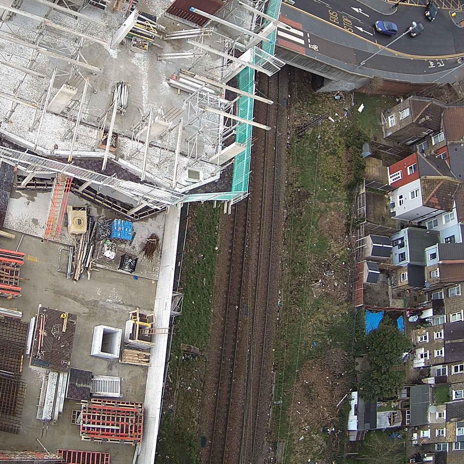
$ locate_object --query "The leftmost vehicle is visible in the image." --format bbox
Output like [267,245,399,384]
[379,20,400,34]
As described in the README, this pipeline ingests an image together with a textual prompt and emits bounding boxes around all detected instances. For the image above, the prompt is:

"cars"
[411,23,428,36]
[426,0,438,18]
[379,20,400,34]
